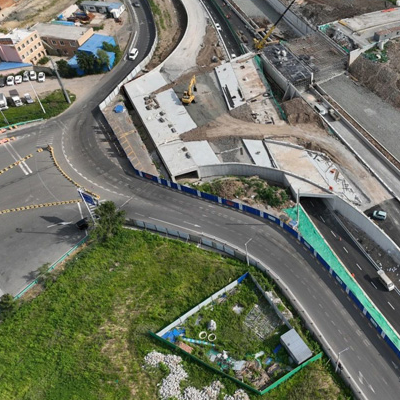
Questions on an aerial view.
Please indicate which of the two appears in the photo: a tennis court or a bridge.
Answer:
bridge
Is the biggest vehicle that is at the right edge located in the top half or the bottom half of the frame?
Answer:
bottom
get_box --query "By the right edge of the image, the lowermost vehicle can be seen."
[375,266,396,290]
